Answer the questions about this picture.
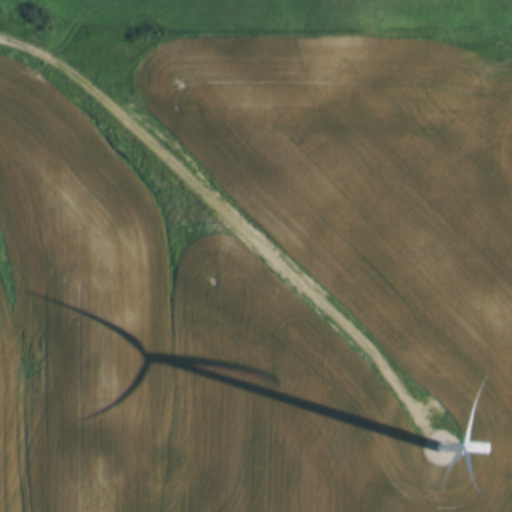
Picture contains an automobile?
No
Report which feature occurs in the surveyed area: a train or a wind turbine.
wind turbine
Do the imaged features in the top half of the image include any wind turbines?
No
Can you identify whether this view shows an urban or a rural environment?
rural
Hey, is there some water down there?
No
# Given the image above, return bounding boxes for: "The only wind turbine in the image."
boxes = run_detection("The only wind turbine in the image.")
[436,384,490,502]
